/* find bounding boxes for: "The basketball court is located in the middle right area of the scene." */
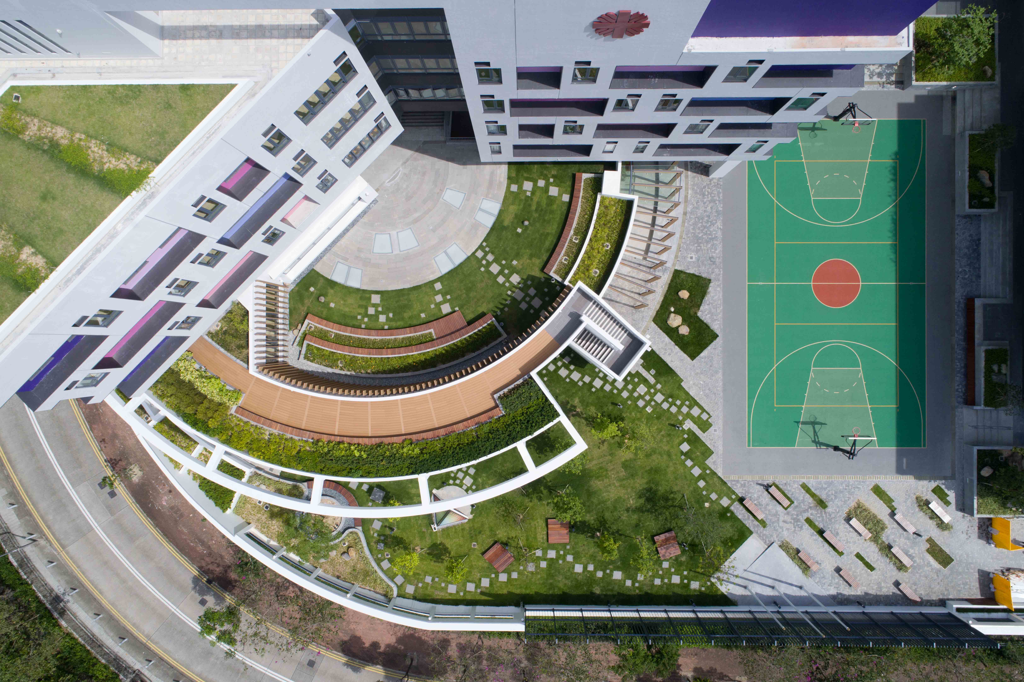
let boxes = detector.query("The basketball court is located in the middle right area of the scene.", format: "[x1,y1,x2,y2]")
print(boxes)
[748,119,926,447]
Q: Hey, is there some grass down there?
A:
Yes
